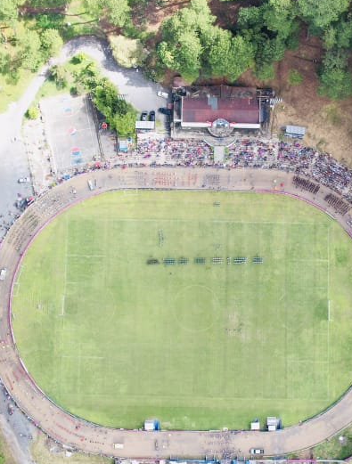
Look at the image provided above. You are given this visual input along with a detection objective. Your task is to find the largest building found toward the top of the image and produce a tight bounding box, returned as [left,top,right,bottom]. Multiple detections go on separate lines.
[172,84,275,163]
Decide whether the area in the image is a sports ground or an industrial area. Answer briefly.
sports ground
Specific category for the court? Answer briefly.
basketball court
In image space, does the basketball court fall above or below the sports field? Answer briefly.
above it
